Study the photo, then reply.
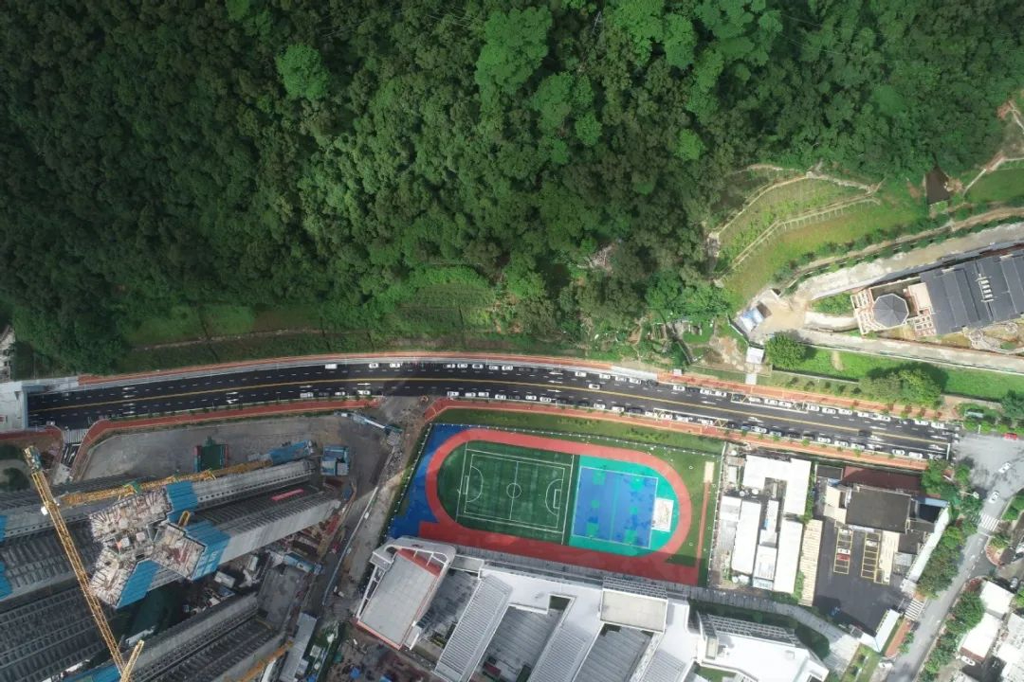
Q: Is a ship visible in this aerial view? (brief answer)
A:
No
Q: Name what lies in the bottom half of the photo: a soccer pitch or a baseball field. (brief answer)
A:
soccer pitch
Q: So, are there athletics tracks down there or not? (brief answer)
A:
Yes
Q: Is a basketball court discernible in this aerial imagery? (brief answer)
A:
Yes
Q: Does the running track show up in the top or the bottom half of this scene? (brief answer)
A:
bottom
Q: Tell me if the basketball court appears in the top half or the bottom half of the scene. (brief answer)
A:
bottom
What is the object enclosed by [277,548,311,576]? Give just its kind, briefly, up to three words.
building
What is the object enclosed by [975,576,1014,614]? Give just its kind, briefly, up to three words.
house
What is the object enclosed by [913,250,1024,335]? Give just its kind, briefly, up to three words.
house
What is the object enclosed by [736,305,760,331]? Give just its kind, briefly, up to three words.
shed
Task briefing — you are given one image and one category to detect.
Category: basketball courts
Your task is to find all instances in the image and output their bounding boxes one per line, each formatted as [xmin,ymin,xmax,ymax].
[571,455,678,558]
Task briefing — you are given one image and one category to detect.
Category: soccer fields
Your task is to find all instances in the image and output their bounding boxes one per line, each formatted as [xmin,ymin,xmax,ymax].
[437,441,579,548]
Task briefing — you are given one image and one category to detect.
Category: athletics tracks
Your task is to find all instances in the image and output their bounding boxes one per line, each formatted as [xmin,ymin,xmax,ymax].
[418,429,697,586]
